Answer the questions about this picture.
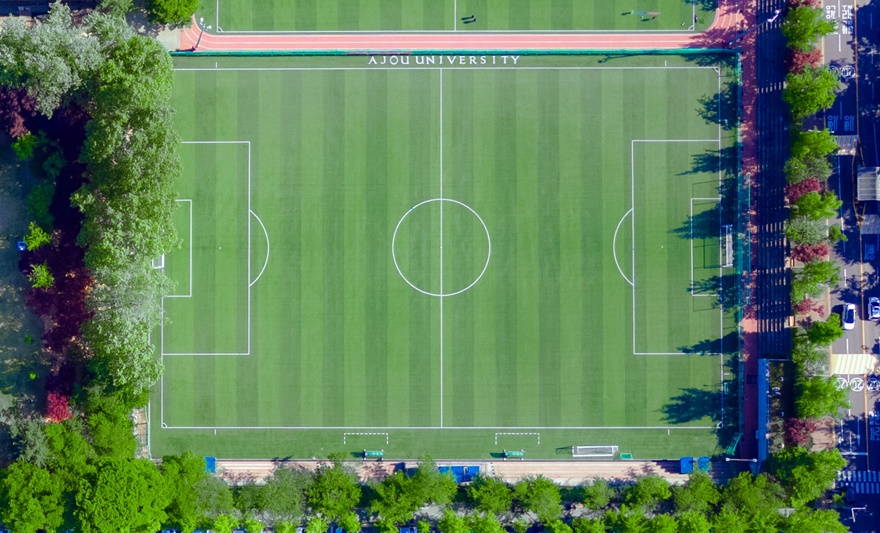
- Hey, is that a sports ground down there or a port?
sports ground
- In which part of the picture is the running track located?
top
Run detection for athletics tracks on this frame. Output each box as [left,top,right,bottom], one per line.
[181,0,742,54]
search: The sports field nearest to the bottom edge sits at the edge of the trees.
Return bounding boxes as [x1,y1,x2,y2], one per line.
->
[149,54,738,459]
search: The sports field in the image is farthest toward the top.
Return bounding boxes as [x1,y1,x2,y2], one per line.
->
[194,0,717,33]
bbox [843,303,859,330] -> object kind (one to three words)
car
